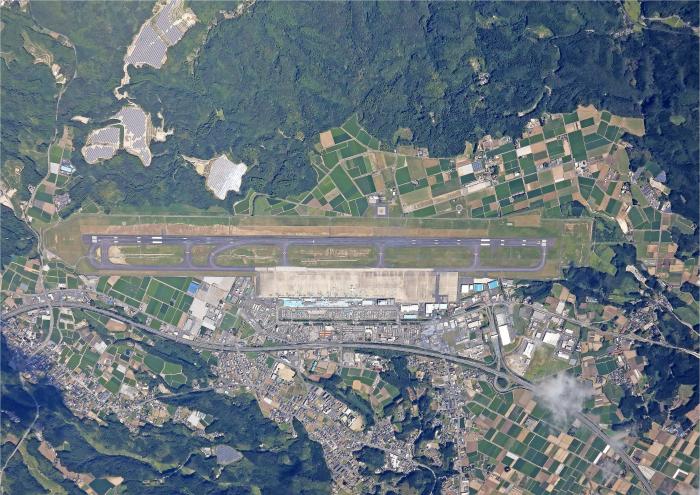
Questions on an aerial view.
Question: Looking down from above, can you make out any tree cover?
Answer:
Yes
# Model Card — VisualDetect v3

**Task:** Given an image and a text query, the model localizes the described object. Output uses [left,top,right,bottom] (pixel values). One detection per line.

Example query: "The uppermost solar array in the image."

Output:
[125,0,185,68]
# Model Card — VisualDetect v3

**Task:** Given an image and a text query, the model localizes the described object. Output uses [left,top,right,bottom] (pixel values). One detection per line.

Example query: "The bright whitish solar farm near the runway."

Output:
[207,155,247,199]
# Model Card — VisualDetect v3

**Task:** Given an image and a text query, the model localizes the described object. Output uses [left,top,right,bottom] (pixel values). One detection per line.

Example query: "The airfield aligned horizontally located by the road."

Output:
[44,213,593,309]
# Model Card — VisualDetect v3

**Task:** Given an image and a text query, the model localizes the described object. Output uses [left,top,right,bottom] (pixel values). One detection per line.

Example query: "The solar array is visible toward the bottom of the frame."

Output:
[212,444,244,465]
